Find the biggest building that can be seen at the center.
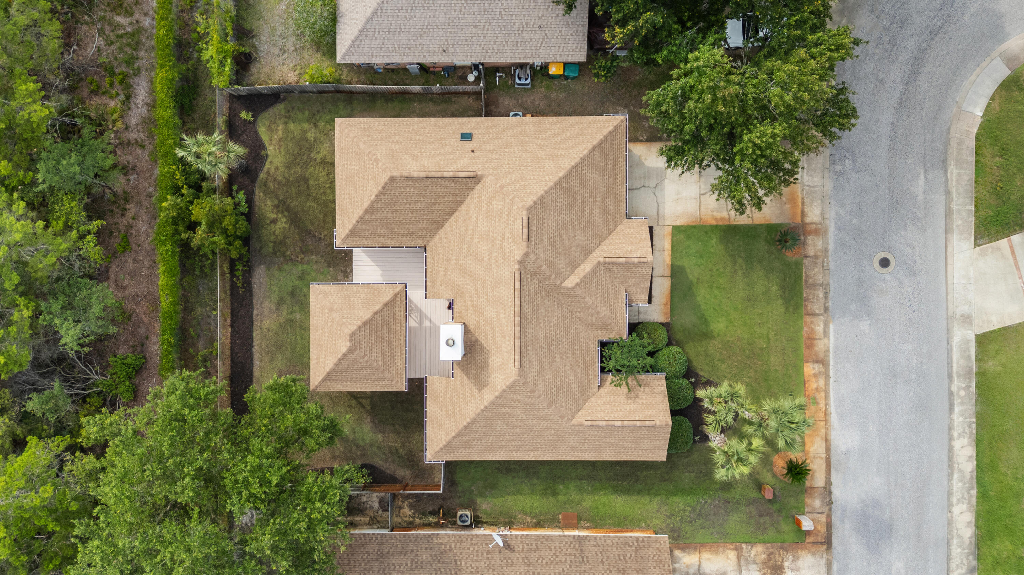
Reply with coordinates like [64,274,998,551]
[333,114,672,463]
